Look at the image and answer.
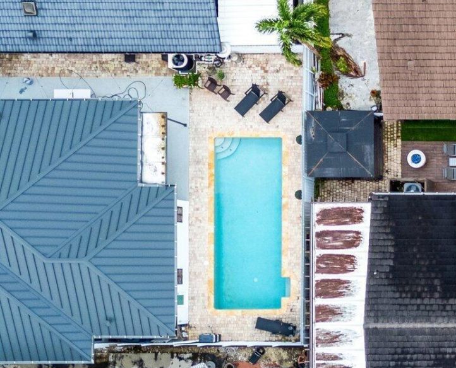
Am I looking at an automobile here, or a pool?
pool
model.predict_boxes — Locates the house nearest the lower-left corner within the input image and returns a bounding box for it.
[0,97,188,364]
